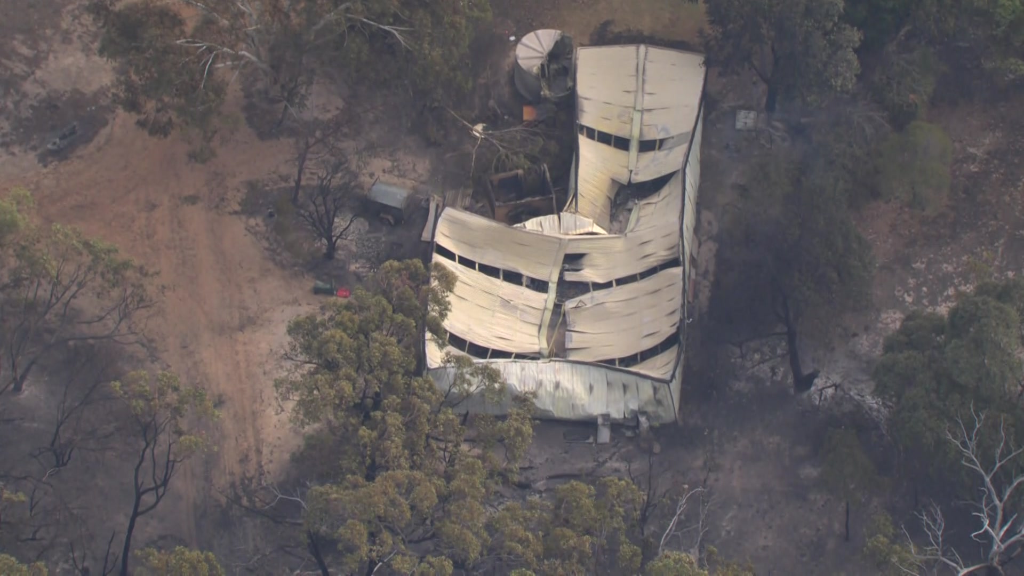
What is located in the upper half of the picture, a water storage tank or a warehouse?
water storage tank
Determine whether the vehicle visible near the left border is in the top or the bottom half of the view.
top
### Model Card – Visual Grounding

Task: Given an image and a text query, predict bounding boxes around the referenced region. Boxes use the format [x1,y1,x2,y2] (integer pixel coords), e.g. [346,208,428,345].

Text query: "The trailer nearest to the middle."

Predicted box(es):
[369,177,424,226]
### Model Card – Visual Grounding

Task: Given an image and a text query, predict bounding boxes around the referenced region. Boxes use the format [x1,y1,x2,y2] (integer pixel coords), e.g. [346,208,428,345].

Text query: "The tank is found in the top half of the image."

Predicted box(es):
[515,34,574,102]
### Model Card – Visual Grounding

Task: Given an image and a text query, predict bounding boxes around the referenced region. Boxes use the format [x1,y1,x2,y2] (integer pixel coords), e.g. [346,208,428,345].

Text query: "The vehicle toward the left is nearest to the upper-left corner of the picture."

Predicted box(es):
[34,111,90,156]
